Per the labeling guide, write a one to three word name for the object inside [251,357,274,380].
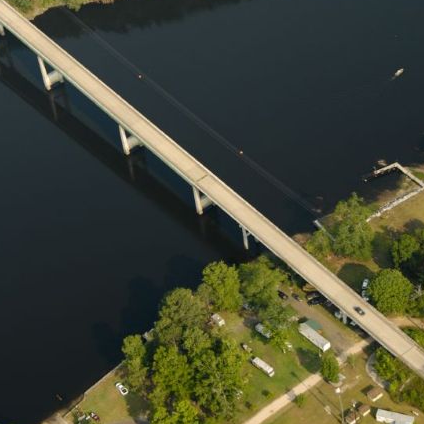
camper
